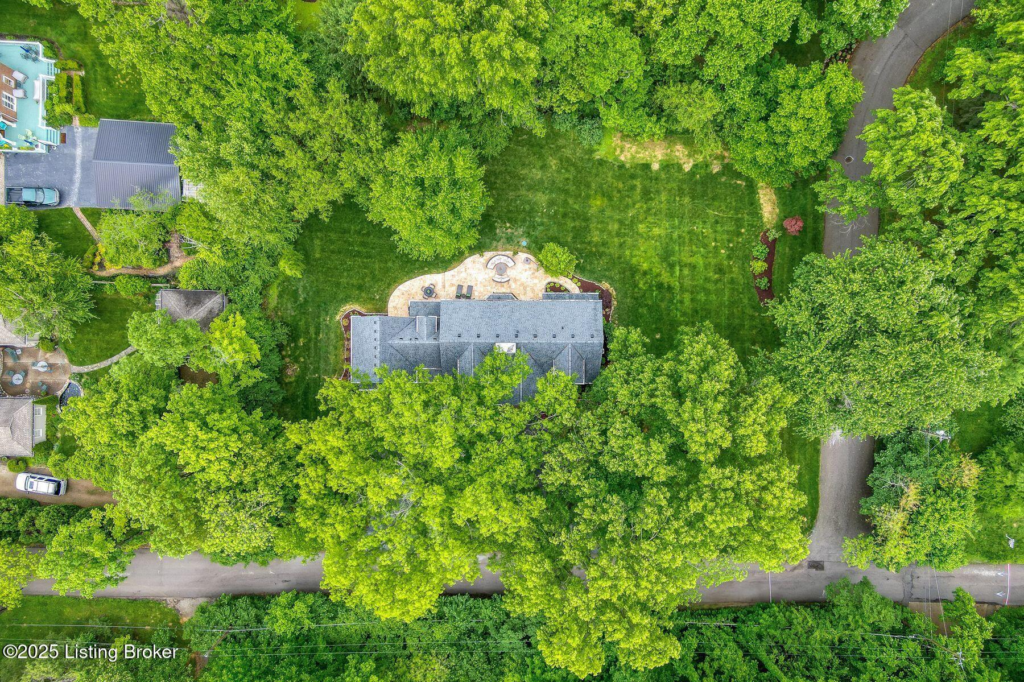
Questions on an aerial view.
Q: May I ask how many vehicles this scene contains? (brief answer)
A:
2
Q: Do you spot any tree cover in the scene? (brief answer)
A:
Yes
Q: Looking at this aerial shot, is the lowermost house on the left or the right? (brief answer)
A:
left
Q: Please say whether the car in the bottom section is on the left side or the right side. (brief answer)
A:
left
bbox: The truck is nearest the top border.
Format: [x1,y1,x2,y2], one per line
[5,185,61,208]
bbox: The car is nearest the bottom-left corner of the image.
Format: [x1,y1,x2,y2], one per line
[16,471,70,497]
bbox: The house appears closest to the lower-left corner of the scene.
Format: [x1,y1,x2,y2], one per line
[0,397,46,456]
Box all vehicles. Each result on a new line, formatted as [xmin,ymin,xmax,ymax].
[16,471,70,497]
[5,185,61,208]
